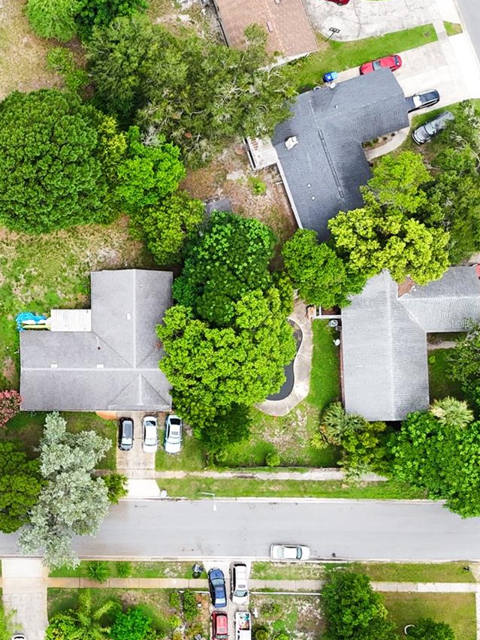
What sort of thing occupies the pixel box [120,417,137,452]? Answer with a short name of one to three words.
car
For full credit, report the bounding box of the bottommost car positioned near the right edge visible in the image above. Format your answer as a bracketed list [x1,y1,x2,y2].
[414,108,458,141]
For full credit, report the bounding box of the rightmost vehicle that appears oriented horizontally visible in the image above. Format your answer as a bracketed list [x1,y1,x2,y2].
[405,86,447,109]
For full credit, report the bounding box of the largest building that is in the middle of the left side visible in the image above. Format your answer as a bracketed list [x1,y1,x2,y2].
[21,269,174,411]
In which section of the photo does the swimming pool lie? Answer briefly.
center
